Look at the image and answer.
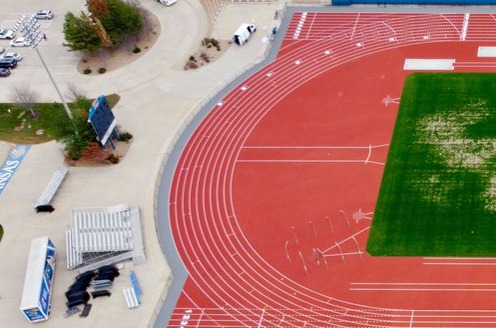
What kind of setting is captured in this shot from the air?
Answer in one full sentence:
This image shows a sports ground.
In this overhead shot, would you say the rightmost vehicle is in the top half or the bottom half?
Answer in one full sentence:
Seen from above, the rightmost vehicle lies in the top half of the view.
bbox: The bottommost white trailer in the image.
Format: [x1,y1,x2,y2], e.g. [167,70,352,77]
[20,237,57,319]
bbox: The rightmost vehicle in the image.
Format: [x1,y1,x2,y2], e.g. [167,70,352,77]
[228,27,257,48]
